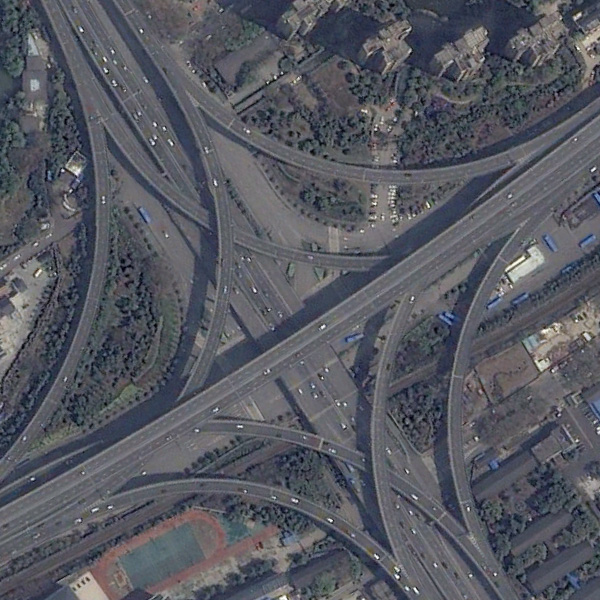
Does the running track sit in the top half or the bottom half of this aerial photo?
bottom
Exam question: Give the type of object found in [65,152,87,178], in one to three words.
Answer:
building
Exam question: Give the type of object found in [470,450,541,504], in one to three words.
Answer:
house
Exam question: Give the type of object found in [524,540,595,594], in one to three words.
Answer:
house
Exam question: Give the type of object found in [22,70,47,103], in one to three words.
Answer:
shed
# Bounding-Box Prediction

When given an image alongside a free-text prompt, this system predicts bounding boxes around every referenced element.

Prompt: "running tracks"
[96,509,274,600]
